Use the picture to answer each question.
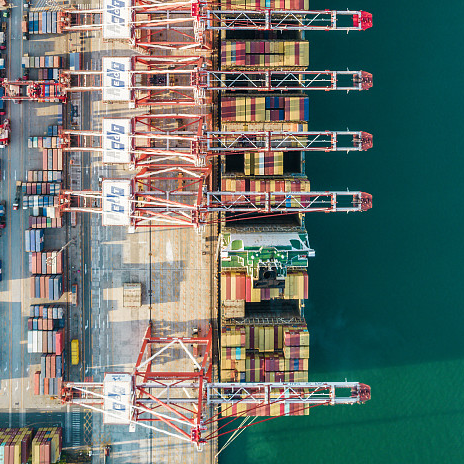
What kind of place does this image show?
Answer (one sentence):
This looks like a port.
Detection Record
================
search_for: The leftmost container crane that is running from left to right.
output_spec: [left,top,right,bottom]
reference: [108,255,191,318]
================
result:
[0,73,69,108]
